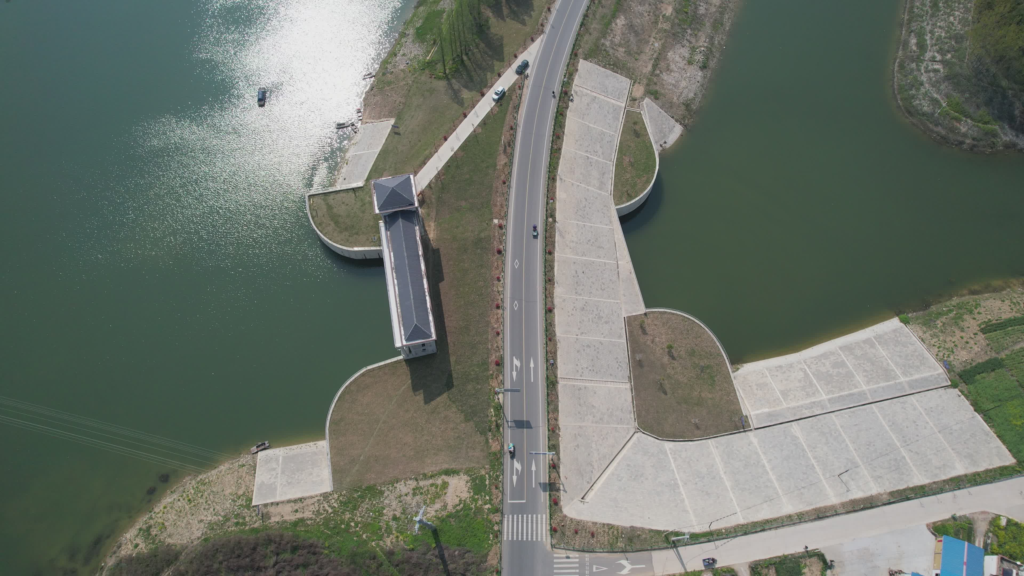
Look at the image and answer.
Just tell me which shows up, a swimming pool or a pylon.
pylon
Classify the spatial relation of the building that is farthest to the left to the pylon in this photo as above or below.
above it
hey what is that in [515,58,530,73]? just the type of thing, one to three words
car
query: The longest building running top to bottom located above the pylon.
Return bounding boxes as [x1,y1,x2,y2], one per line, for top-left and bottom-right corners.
[370,172,437,356]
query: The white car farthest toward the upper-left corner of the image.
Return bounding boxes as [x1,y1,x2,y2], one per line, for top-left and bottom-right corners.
[491,84,506,100]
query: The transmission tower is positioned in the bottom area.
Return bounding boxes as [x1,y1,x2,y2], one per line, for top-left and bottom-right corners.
[409,505,439,536]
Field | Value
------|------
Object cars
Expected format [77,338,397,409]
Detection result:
[515,58,530,73]
[491,84,506,100]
